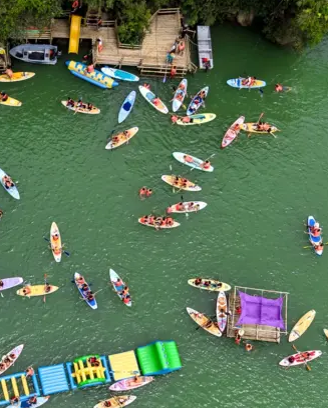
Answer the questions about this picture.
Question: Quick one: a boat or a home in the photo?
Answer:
boat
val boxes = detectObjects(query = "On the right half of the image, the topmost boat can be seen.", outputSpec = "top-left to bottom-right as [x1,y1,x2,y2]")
[197,25,225,72]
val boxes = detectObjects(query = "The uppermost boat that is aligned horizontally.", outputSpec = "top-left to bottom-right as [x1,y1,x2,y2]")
[10,44,64,63]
